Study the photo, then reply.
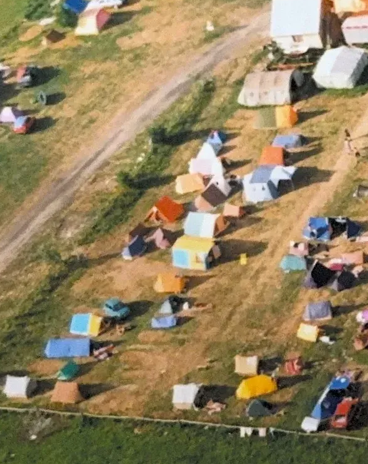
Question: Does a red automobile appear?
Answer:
Yes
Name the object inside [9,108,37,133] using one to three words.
car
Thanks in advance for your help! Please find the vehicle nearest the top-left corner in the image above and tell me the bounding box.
[16,57,34,87]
